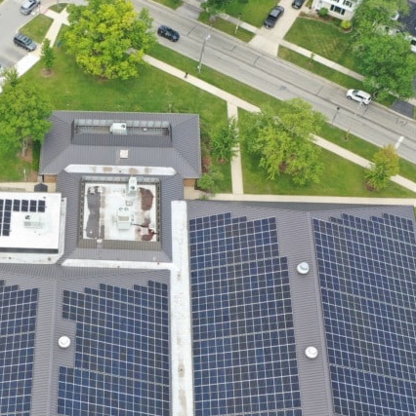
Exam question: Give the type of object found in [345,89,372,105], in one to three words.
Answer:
car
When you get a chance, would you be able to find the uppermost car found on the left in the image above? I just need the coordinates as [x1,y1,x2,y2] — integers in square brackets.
[18,0,41,15]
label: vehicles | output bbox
[18,0,41,15]
[12,30,37,51]
[291,0,306,11]
[154,23,181,42]
[265,3,284,30]
[345,89,372,105]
